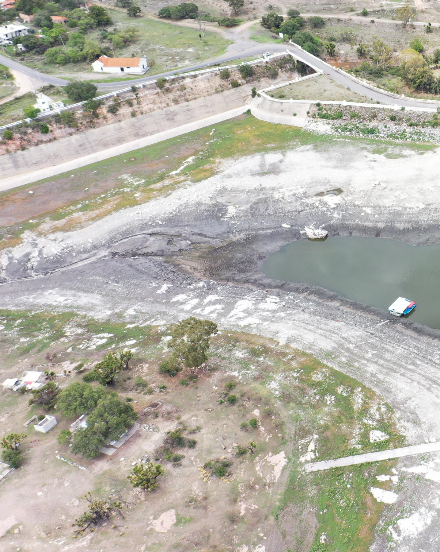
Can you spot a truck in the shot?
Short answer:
No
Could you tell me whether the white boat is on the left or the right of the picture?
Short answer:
right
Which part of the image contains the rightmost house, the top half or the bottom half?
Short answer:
top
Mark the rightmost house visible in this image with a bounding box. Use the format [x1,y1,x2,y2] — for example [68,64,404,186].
[87,51,156,77]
